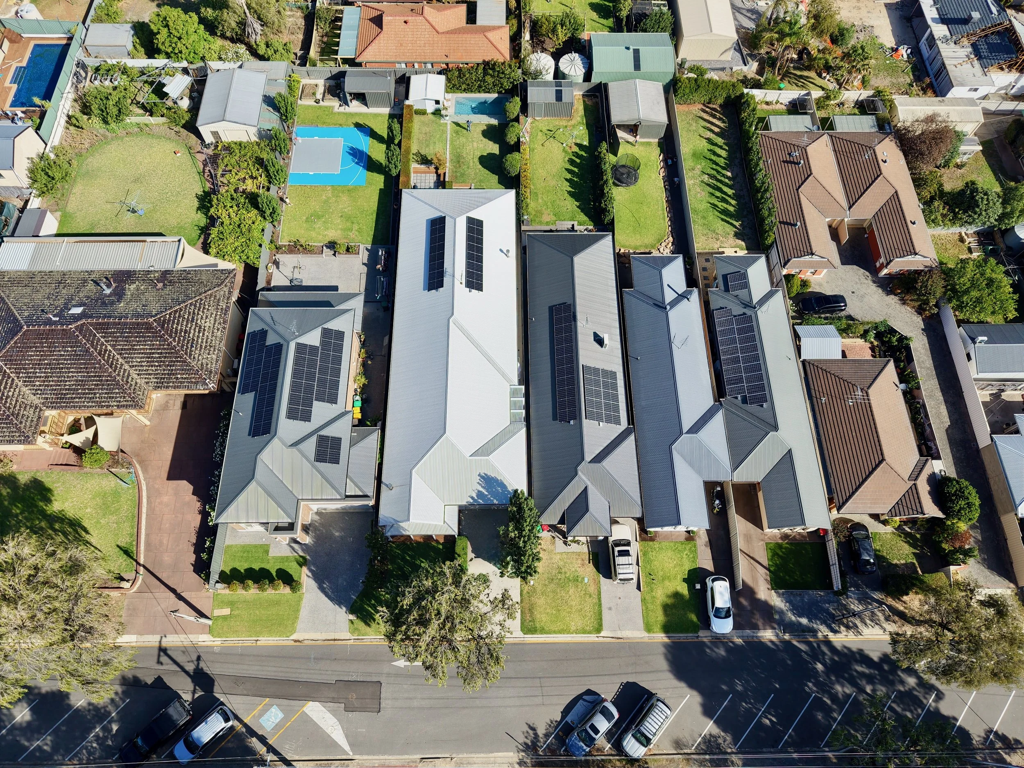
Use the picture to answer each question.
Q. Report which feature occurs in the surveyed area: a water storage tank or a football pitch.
water storage tank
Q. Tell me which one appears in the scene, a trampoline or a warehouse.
trampoline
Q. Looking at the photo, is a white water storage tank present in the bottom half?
No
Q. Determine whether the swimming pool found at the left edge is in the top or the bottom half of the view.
top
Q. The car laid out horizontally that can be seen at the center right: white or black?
black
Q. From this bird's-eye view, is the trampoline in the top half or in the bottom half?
top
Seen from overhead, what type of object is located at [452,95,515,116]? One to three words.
swimming pool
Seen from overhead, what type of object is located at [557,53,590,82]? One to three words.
water tank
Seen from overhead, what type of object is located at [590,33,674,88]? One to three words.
shed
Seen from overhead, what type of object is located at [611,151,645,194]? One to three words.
trampoline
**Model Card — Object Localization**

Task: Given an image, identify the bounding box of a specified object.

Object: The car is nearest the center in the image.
[609,523,638,584]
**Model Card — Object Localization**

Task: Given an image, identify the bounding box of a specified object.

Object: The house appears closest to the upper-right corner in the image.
[912,0,1024,99]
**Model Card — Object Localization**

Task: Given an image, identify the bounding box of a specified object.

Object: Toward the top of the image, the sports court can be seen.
[288,127,370,185]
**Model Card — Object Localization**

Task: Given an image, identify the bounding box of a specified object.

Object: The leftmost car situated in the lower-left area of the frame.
[121,701,195,768]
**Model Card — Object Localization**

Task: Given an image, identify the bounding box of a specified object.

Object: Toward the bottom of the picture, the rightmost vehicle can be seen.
[842,519,883,578]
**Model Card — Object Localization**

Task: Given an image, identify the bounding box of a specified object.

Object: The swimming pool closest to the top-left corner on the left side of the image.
[4,41,72,110]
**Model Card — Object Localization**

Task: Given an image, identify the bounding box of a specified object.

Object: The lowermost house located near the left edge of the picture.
[0,267,241,450]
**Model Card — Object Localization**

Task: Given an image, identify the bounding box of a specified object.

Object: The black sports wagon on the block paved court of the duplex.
[795,291,848,316]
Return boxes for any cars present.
[568,695,617,761]
[842,519,883,578]
[795,291,848,316]
[121,701,195,768]
[168,700,231,765]
[609,523,638,584]
[703,576,737,635]
[622,691,673,764]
